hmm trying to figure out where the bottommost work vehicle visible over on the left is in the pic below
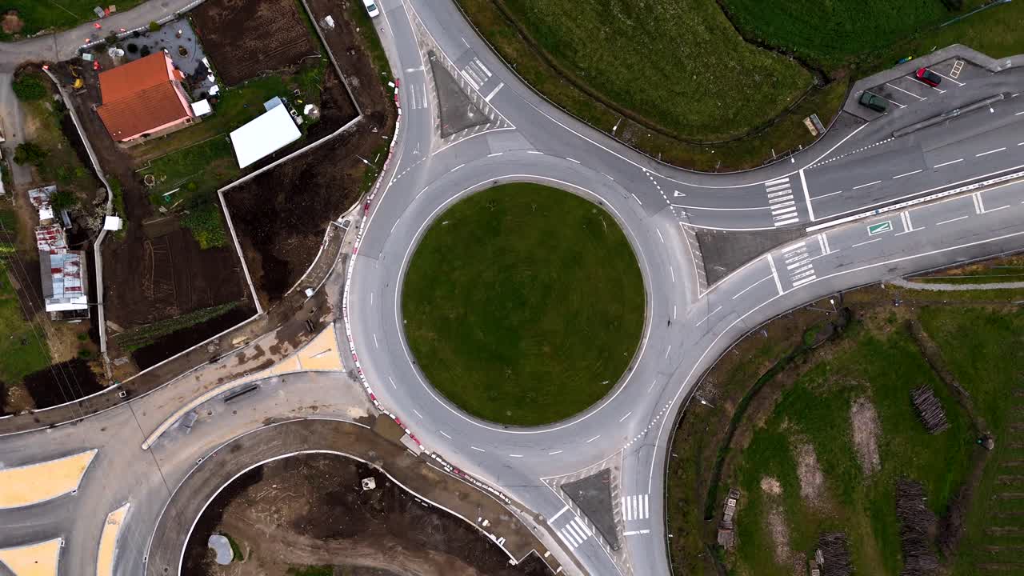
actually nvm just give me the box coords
[68,65,87,92]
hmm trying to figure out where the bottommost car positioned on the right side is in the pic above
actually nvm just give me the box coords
[857,91,891,112]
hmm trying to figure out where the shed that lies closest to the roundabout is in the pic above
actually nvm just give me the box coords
[231,96,303,169]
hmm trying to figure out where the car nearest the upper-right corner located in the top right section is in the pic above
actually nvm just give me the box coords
[914,68,942,87]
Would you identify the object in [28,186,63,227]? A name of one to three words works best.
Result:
shed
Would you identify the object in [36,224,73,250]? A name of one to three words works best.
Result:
shed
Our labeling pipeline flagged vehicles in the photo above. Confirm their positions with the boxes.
[857,91,891,112]
[914,68,942,87]
[68,65,87,92]
[363,0,380,19]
